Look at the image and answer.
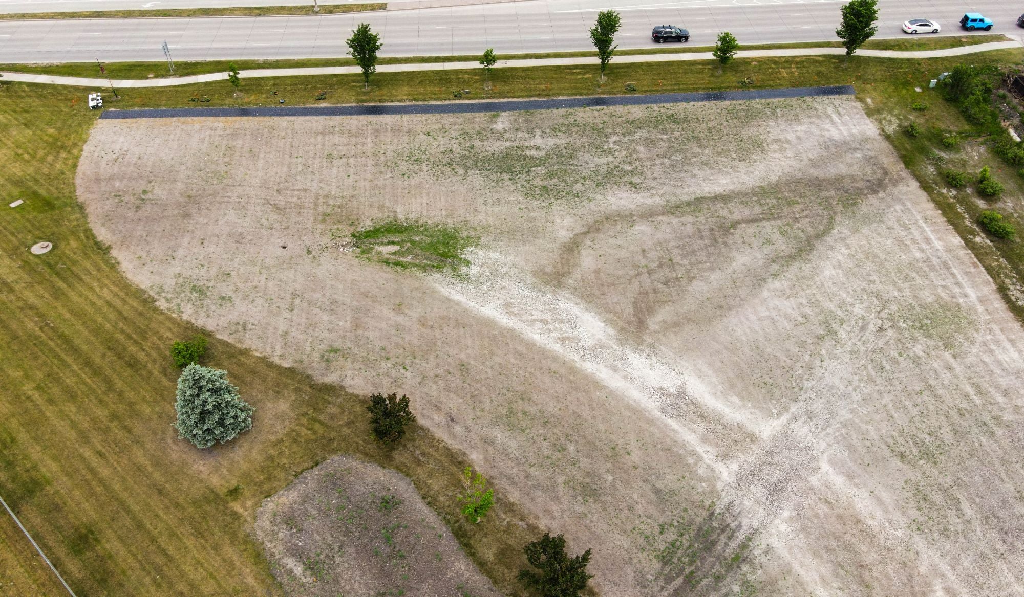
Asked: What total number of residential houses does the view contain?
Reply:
zero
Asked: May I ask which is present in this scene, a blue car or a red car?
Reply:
blue car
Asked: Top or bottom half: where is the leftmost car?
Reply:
top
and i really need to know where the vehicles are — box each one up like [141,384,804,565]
[652,22,691,43]
[903,18,942,34]
[1016,13,1024,28]
[961,13,996,31]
